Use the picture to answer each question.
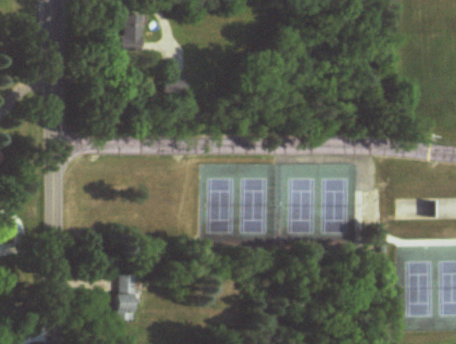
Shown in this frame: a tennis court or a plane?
tennis court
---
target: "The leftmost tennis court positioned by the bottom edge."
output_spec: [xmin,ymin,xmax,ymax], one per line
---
[396,246,435,330]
